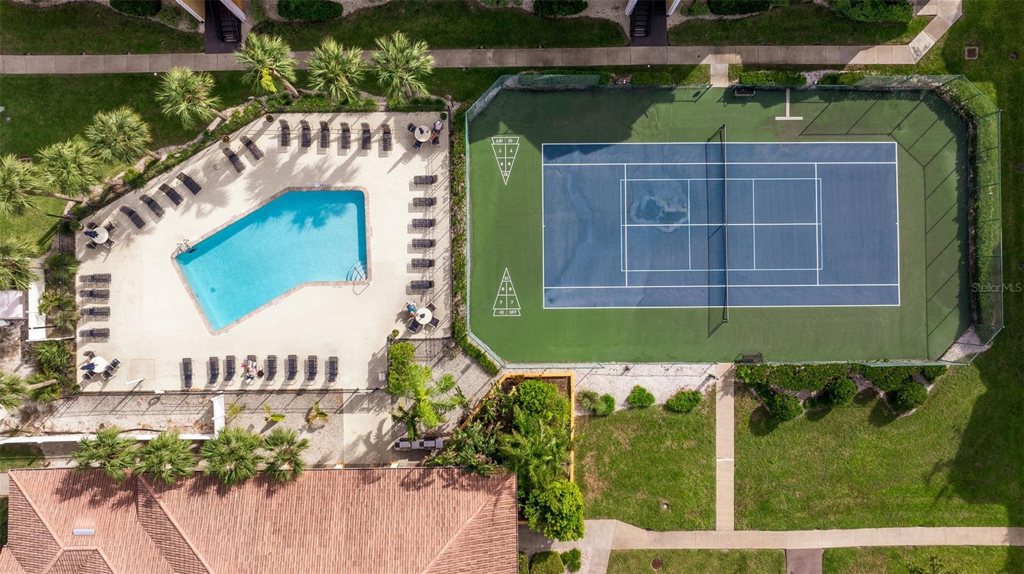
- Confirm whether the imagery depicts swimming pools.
Yes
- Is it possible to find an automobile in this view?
No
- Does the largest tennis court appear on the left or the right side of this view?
right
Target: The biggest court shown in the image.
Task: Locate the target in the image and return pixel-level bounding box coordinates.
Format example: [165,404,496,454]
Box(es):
[470,87,971,363]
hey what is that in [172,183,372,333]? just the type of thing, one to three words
swimming pool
